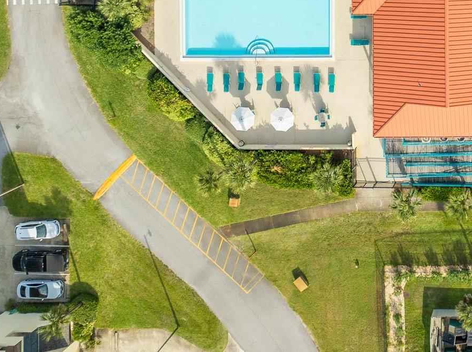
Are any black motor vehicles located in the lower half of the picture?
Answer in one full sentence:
Yes, a black motor vehicle can be seen in the lower half of the picture.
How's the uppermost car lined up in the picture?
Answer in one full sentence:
The uppermost car is laid out from left to right.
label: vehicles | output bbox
[16,277,66,302]
[13,248,71,275]
[14,217,64,242]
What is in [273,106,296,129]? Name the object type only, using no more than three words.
umbrella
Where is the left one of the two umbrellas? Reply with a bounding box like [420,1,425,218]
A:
[232,106,256,130]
